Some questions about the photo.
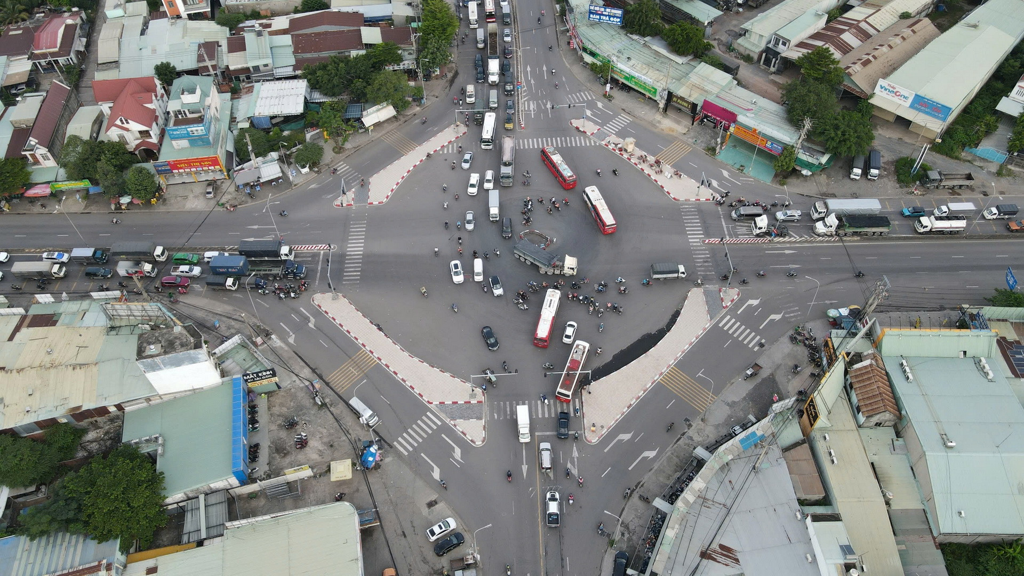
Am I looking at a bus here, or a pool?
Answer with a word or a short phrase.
bus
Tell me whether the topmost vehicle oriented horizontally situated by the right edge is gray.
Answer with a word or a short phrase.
Yes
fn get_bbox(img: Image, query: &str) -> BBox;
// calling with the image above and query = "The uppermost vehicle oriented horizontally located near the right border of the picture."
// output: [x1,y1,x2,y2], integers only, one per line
[921,170,979,190]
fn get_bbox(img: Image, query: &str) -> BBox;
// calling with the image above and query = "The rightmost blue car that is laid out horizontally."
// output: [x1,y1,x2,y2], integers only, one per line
[899,206,926,218]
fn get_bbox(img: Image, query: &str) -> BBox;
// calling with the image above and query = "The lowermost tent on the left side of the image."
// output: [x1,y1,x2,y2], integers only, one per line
[327,459,356,483]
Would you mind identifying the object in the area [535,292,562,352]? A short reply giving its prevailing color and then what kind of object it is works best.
white bus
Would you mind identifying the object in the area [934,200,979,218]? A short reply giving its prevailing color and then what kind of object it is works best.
white vehicle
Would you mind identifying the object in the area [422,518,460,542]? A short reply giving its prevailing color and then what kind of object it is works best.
white car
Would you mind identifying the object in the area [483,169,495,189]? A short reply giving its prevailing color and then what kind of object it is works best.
white vehicle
